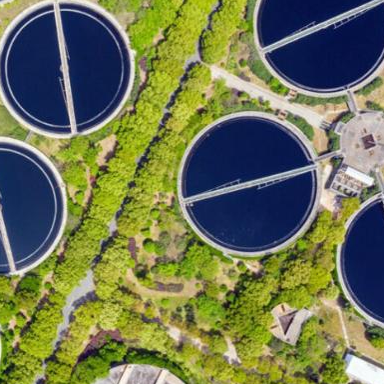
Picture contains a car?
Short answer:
No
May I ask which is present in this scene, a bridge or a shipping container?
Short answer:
bridge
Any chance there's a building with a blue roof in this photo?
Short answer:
No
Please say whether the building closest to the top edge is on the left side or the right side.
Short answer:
right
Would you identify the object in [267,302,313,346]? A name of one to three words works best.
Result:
building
